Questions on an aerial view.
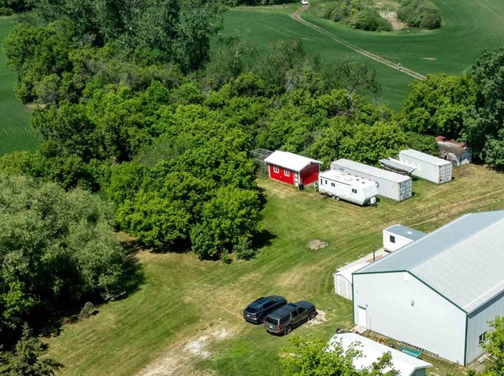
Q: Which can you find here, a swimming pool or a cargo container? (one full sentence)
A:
I can see a cargo container in this picture.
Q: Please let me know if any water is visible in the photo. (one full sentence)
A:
No, no water is visible.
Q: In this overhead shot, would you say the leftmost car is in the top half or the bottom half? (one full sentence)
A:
The bottom half of the photo is where the leftmost car is.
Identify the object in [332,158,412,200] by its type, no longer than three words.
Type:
shipping container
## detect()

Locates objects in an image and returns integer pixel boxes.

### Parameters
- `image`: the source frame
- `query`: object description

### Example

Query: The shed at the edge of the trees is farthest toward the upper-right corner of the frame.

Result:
[424,132,474,166]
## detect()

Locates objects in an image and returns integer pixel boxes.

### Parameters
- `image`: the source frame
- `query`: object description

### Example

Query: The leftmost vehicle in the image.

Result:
[244,295,292,325]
